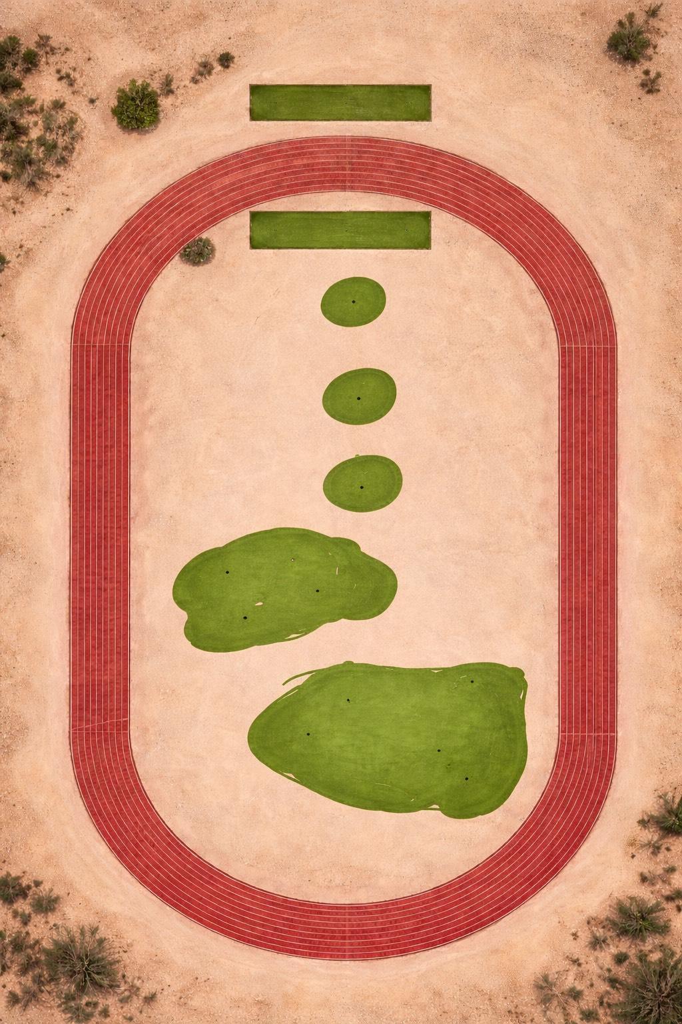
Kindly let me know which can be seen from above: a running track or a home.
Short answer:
running track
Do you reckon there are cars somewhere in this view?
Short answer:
No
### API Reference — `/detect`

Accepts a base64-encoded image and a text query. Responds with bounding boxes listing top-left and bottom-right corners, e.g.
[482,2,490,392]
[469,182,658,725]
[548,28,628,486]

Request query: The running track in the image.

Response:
[70,136,618,961]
